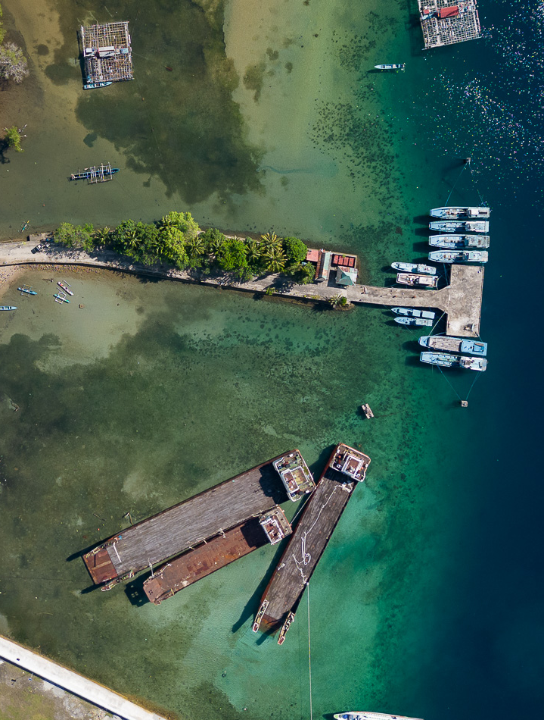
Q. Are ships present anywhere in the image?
Yes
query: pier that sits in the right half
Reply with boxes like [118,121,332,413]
[347,265,484,338]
